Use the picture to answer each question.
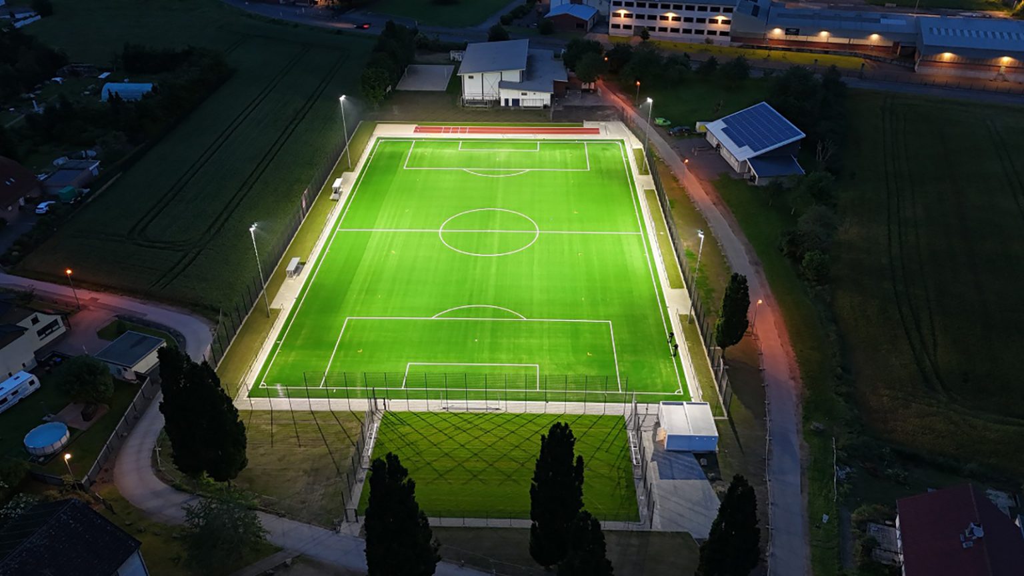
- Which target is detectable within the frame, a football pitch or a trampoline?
football pitch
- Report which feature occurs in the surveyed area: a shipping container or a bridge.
shipping container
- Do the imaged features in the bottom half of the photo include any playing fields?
Yes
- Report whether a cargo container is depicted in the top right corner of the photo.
No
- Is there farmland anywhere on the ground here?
Yes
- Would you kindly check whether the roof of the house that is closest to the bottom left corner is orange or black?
black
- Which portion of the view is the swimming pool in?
bottom left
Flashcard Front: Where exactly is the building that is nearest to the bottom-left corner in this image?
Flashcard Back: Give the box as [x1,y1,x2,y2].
[0,499,141,576]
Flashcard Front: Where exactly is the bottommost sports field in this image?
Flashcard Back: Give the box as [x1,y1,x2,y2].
[357,411,641,520]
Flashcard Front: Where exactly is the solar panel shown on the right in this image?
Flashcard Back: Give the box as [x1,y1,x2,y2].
[722,103,802,153]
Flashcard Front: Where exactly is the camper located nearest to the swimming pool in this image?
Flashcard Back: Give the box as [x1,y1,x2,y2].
[0,372,37,411]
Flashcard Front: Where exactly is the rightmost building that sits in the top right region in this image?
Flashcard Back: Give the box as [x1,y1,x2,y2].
[915,16,1024,81]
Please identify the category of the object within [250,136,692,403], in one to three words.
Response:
soccer field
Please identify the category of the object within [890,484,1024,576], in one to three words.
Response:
house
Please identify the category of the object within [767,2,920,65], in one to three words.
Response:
building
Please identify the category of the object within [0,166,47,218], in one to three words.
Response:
house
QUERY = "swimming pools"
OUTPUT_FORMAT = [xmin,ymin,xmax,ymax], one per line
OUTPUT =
[23,421,73,457]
